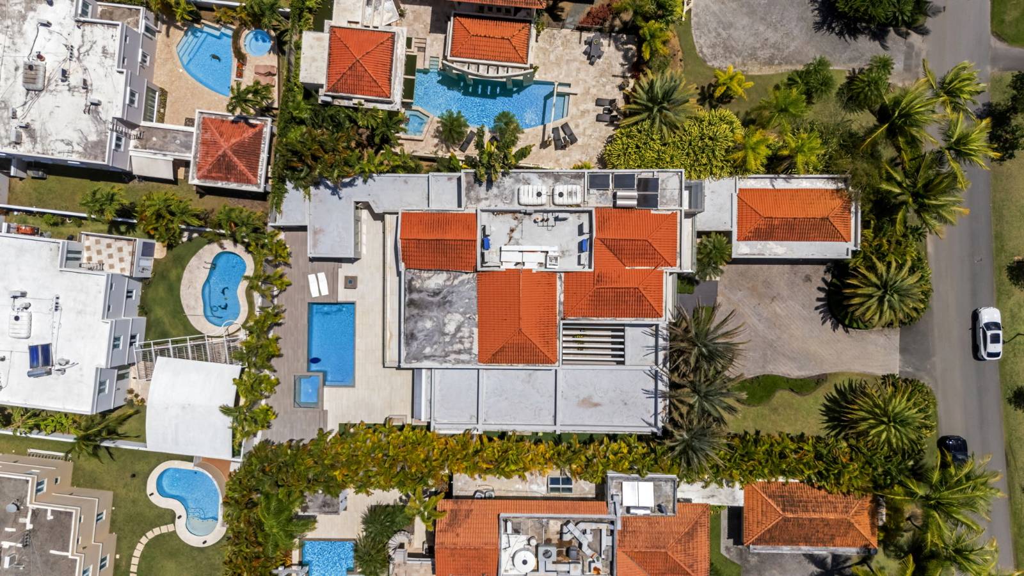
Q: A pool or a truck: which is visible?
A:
pool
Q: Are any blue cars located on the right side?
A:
No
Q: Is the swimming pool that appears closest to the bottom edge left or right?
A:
left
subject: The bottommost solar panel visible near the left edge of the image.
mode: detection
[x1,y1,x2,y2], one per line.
[29,343,56,369]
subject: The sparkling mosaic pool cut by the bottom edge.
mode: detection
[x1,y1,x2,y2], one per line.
[298,538,357,576]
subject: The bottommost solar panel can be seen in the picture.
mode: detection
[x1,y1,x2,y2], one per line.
[623,481,654,506]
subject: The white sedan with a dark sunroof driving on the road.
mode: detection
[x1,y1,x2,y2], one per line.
[974,306,1004,360]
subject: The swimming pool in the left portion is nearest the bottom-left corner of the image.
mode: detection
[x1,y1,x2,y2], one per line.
[156,467,219,537]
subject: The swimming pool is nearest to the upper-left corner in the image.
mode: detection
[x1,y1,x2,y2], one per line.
[174,23,235,99]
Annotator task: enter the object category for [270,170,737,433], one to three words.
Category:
house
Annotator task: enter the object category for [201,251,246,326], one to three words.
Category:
swimming pool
